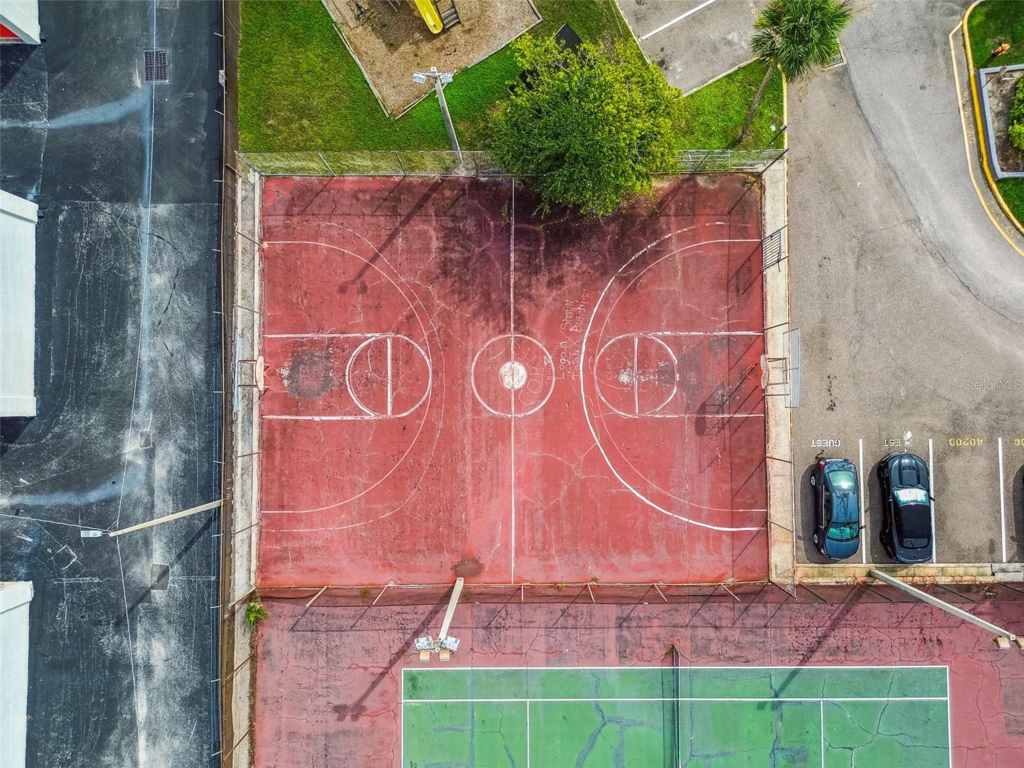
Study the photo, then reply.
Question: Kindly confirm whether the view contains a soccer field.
No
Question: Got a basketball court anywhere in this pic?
Yes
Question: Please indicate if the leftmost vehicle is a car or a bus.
car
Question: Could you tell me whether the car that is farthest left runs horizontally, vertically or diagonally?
vertically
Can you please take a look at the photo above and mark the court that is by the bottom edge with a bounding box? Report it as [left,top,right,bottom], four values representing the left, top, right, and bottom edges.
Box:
[254,580,1024,768]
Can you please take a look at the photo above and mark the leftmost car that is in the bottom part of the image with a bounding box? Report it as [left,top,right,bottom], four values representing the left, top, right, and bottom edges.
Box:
[809,455,868,560]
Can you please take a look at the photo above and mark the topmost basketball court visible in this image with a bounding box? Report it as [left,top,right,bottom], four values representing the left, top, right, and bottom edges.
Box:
[257,174,772,587]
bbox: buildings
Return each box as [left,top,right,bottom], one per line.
[0,0,45,44]
[0,582,32,768]
[0,187,43,418]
